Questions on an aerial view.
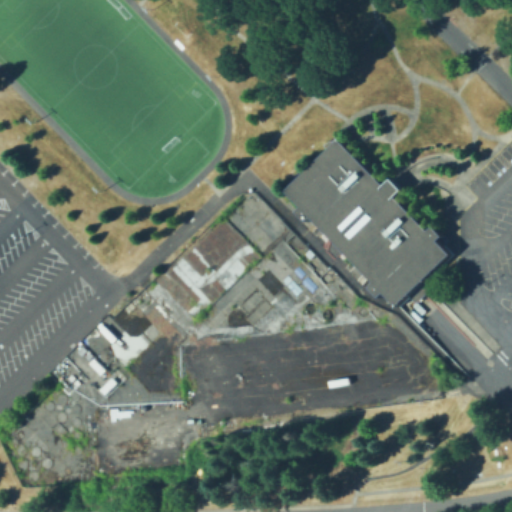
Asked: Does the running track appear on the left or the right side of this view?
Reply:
left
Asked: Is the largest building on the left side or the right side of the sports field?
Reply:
right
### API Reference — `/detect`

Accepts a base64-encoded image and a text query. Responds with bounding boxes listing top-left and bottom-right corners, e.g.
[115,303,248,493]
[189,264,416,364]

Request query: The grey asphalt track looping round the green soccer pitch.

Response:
[0,0,233,204]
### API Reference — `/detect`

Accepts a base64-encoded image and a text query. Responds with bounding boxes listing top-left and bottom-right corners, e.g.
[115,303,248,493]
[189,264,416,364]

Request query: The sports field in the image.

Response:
[0,0,225,196]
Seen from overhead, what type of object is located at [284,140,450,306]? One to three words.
building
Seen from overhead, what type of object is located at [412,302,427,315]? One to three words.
vehicle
